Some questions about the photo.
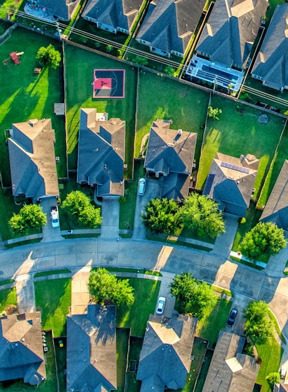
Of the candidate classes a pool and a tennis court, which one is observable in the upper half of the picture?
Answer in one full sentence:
Visible in the upper half of the picture is a pool.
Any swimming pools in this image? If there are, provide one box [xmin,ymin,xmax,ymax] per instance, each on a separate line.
[186,53,247,95]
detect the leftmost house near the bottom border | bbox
[0,309,44,378]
